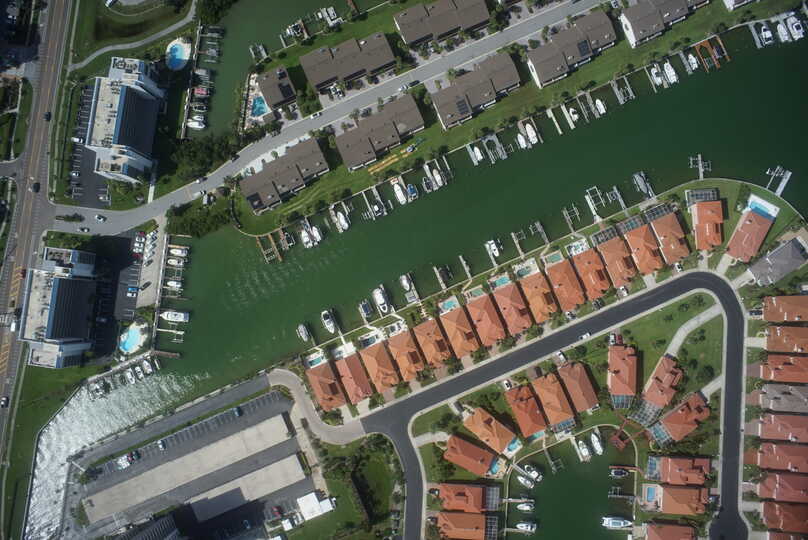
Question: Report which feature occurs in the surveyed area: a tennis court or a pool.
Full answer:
There is a pool in the scene.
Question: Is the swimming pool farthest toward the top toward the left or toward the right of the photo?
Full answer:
The swimming pool farthest toward the top sits on the left side.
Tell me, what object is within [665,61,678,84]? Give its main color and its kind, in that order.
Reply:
white boat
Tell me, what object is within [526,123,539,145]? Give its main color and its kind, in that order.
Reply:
white boat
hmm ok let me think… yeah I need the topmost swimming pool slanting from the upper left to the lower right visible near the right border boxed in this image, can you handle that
[751,194,780,222]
